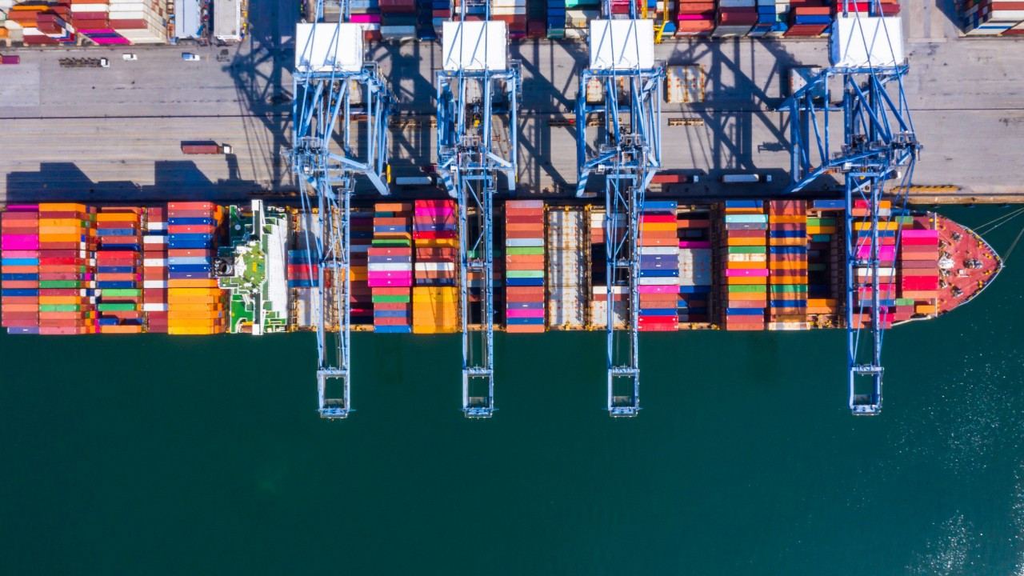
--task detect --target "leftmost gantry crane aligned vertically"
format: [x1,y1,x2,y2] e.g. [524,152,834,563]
[286,0,410,422]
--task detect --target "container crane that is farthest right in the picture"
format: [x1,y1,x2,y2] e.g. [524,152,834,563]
[759,0,921,419]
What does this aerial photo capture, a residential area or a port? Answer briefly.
port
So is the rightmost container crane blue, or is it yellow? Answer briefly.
blue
